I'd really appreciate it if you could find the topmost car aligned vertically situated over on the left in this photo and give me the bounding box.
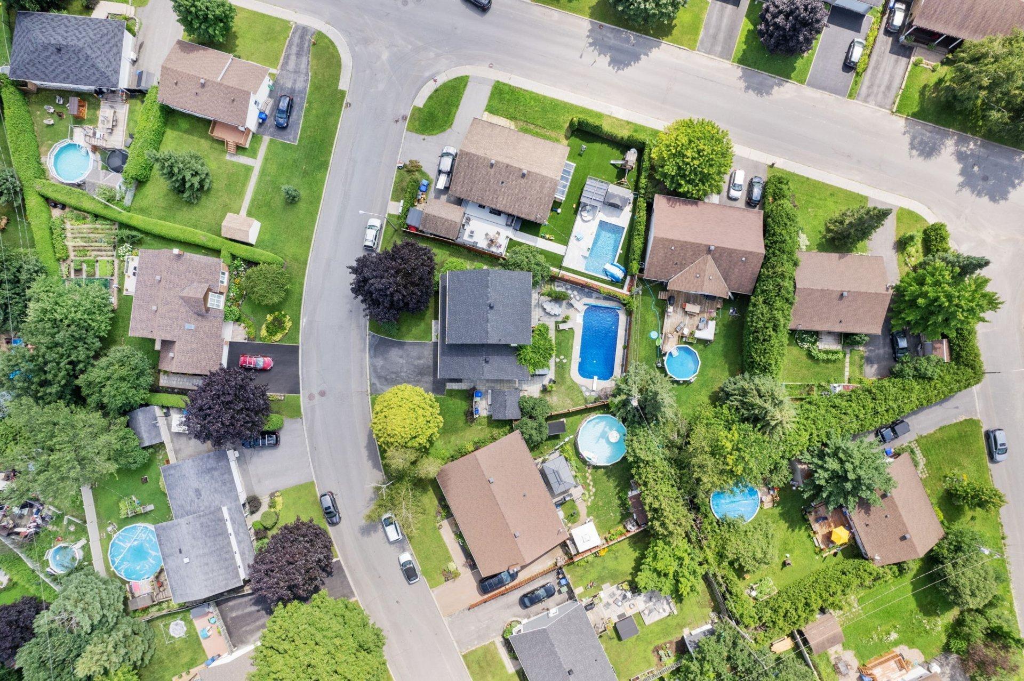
[275,94,295,130]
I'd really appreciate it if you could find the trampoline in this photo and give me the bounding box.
[96,145,125,171]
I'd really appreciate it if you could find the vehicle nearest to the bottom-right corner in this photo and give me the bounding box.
[984,428,1006,463]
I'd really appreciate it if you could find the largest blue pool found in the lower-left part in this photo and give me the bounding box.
[108,523,163,580]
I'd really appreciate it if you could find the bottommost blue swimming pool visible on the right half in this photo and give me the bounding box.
[709,477,760,526]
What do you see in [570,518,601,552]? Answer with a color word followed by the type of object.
white gazebo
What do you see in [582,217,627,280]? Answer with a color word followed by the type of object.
blue swimming pool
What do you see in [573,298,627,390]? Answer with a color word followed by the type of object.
blue swimming pool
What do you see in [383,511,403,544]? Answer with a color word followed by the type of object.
white car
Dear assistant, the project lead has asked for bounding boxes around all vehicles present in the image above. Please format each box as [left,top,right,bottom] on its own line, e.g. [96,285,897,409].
[874,418,912,444]
[245,432,281,450]
[517,581,557,609]
[984,428,1006,463]
[320,489,342,525]
[239,354,275,370]
[464,0,493,16]
[744,176,763,207]
[275,94,295,130]
[884,2,905,33]
[844,38,864,70]
[364,218,382,250]
[435,147,456,189]
[399,551,421,585]
[383,511,403,544]
[726,168,745,200]
[478,570,519,596]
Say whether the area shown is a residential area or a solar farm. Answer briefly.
residential area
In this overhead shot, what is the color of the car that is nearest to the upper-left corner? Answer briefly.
blue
